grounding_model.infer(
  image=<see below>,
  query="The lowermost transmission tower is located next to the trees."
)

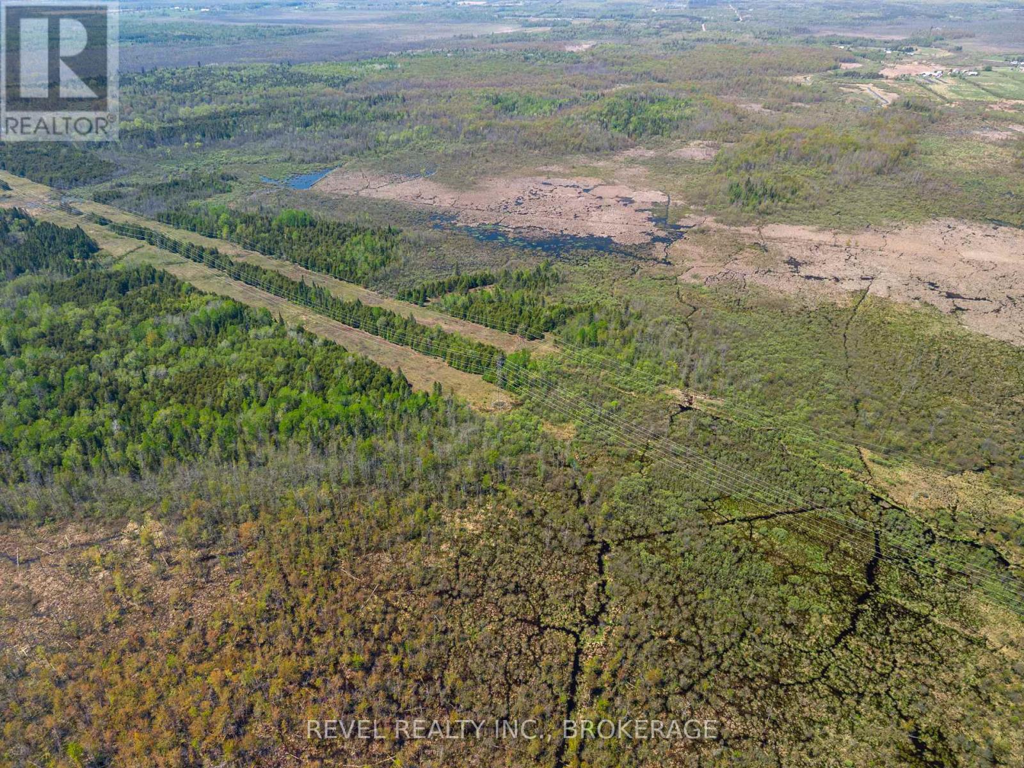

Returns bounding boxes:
[488,354,509,409]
